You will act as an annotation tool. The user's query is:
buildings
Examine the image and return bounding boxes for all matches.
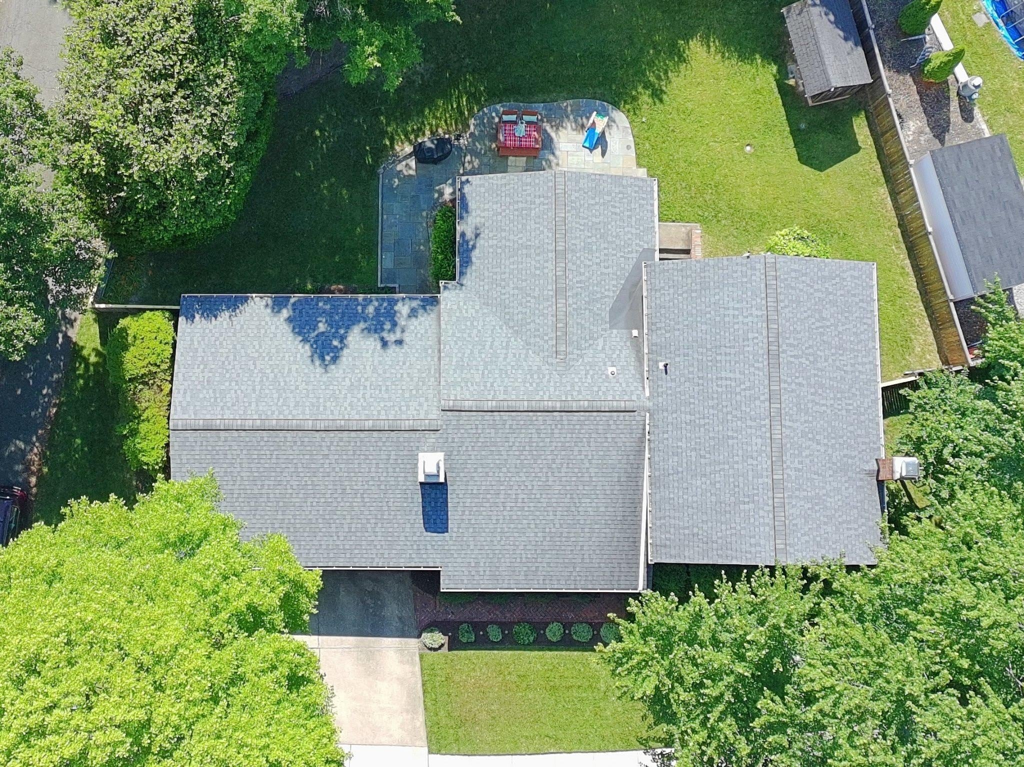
[778,0,874,111]
[905,127,1024,303]
[166,170,923,595]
